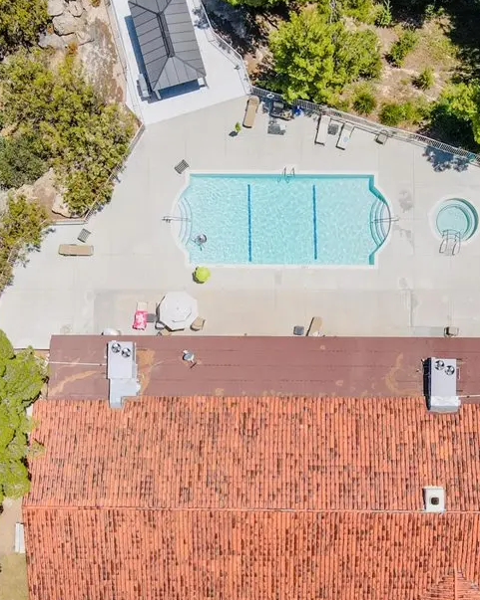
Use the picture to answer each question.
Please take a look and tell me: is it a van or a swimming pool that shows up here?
swimming pool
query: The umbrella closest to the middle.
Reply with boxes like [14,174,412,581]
[193,267,208,281]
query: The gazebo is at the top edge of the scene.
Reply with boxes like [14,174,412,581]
[128,0,210,104]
